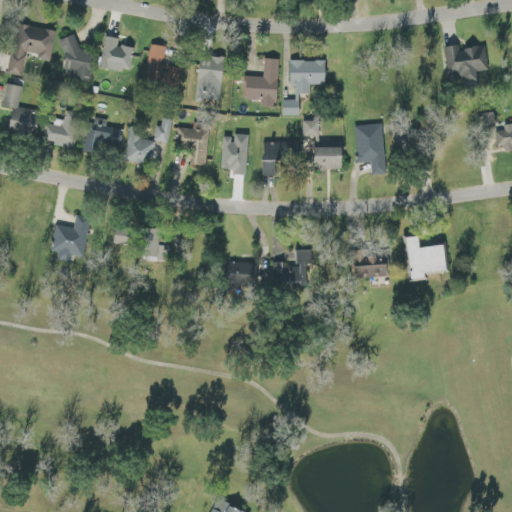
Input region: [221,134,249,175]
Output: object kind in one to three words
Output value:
house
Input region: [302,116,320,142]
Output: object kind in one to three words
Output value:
building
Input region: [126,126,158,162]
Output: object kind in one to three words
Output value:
house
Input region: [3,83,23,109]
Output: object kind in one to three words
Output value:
building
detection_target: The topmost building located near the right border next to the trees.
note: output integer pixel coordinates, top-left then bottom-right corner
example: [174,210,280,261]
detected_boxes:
[446,41,490,82]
